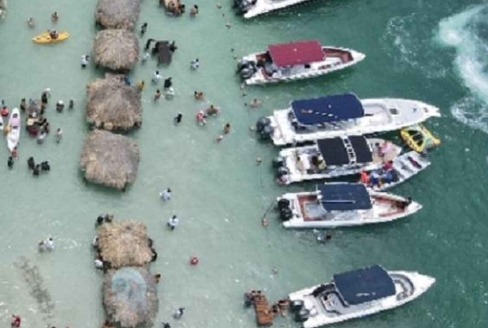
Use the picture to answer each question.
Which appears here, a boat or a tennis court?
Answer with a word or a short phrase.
boat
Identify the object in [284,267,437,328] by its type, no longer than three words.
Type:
boat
